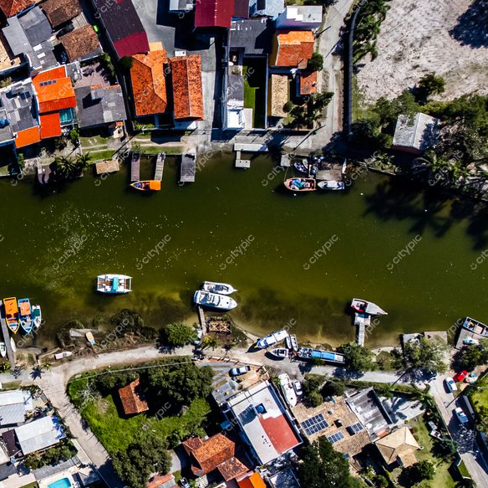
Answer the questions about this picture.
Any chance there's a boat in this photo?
Yes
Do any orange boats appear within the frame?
Yes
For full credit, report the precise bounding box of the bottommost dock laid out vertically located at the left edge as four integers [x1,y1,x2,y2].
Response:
[0,300,16,368]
